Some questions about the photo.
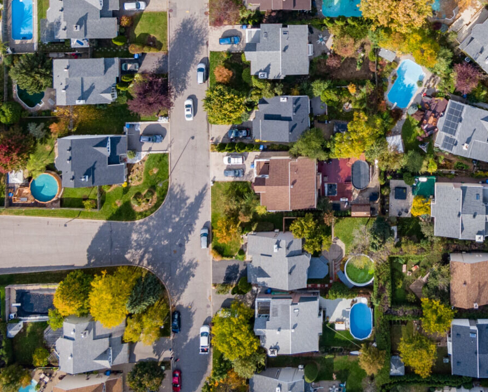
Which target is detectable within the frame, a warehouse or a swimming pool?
swimming pool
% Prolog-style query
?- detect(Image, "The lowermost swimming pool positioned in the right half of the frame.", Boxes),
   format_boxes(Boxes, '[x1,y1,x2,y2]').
[348,300,374,342]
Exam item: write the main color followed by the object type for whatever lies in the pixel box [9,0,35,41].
blue swimming pool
